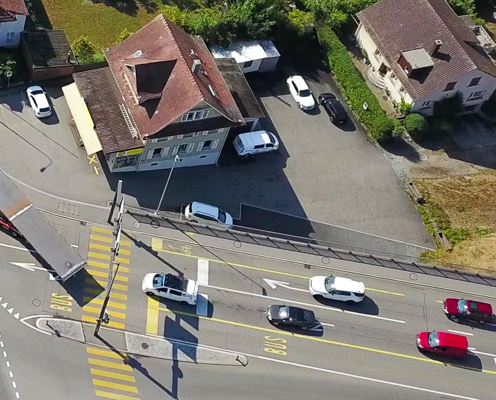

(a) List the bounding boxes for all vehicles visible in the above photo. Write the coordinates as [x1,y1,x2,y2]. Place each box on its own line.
[26,87,51,121]
[441,297,495,326]
[143,271,197,303]
[182,195,236,230]
[265,304,318,332]
[231,129,281,158]
[287,74,314,112]
[415,329,471,360]
[312,273,364,304]
[316,90,352,129]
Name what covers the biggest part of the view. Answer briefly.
paved ground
